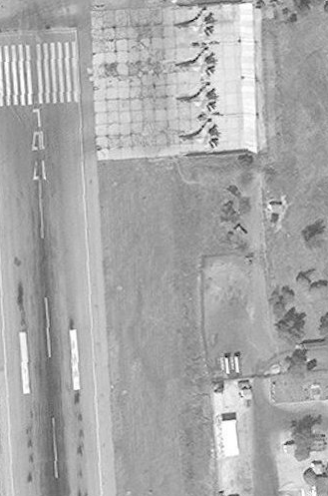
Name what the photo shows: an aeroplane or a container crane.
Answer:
aeroplane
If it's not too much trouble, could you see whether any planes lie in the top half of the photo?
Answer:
Yes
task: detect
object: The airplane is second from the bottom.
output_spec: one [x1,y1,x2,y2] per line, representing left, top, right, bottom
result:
[179,86,219,116]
